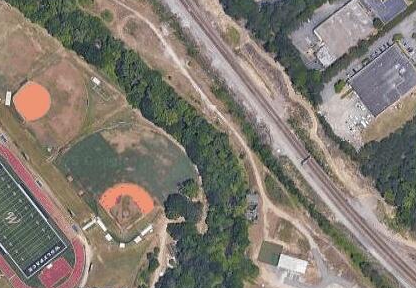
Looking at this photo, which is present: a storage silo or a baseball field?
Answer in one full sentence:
It is a baseball field that can be seen here.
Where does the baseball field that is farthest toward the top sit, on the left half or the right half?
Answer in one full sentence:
It is on the left.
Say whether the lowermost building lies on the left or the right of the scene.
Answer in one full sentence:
The lowermost building appears in the right half of the scene.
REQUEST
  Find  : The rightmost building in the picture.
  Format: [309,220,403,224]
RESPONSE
[352,45,416,116]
